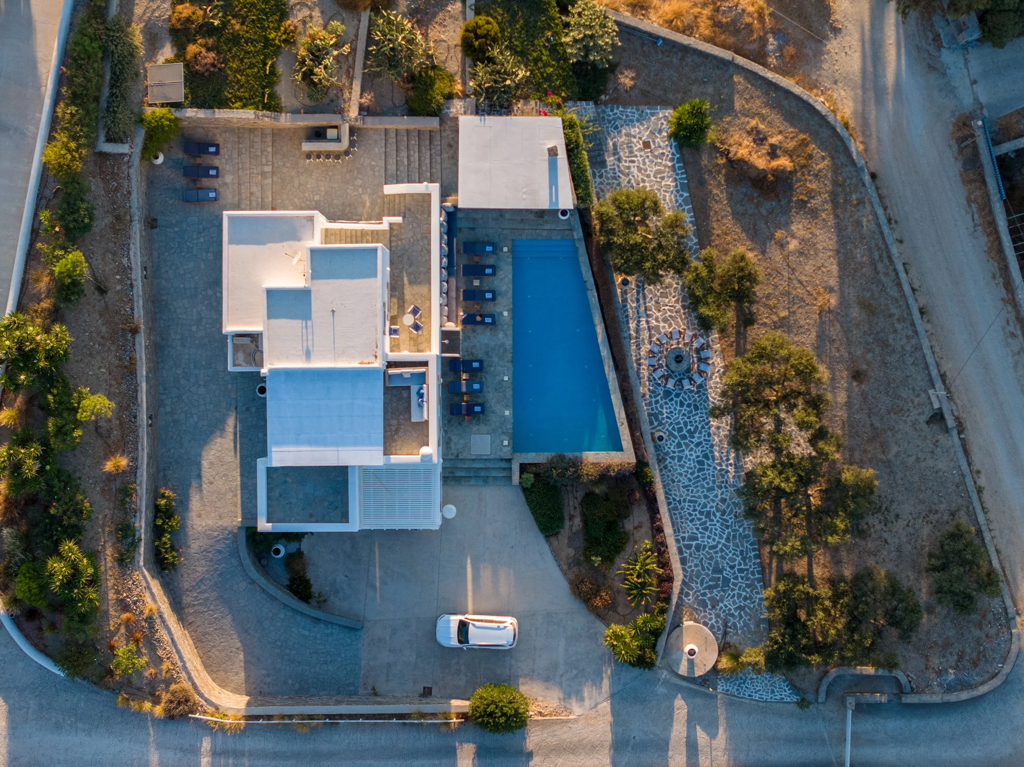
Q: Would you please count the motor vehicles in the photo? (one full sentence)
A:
My tally gives 1 motor vehicle in this photo.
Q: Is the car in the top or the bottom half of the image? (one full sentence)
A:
It is in the bottom half that the car appears.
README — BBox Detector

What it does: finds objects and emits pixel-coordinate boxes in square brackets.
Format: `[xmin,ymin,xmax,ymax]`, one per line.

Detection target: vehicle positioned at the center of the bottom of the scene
[436,610,518,653]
